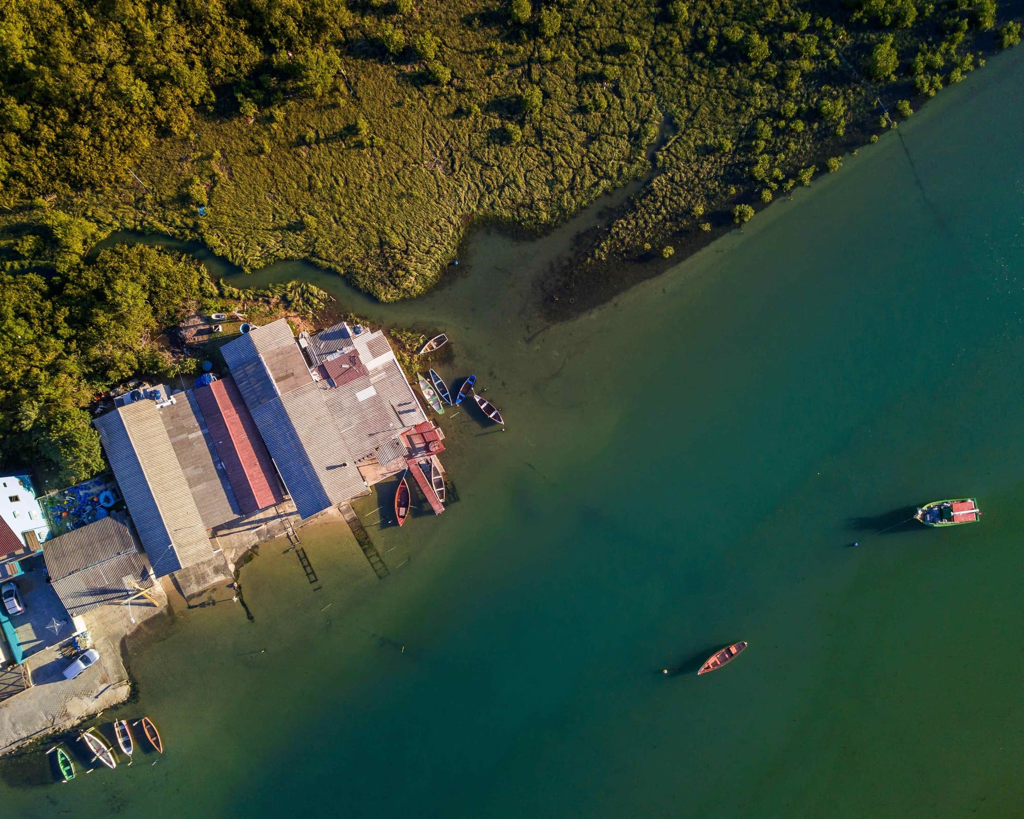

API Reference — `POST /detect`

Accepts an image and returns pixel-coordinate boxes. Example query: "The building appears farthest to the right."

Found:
[308,321,430,486]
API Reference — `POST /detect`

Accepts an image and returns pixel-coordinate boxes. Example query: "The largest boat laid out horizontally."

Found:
[911,498,984,526]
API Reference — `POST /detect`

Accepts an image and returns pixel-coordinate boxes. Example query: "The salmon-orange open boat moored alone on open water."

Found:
[697,640,749,675]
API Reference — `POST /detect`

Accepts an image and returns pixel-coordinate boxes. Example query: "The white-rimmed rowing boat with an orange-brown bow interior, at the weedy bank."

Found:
[420,334,447,353]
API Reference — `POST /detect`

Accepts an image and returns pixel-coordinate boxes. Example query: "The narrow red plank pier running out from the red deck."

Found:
[407,459,444,517]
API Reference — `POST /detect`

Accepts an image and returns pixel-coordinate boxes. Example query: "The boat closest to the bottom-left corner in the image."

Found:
[56,747,75,781]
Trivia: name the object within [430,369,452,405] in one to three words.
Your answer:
boat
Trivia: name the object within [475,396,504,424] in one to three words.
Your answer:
boat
